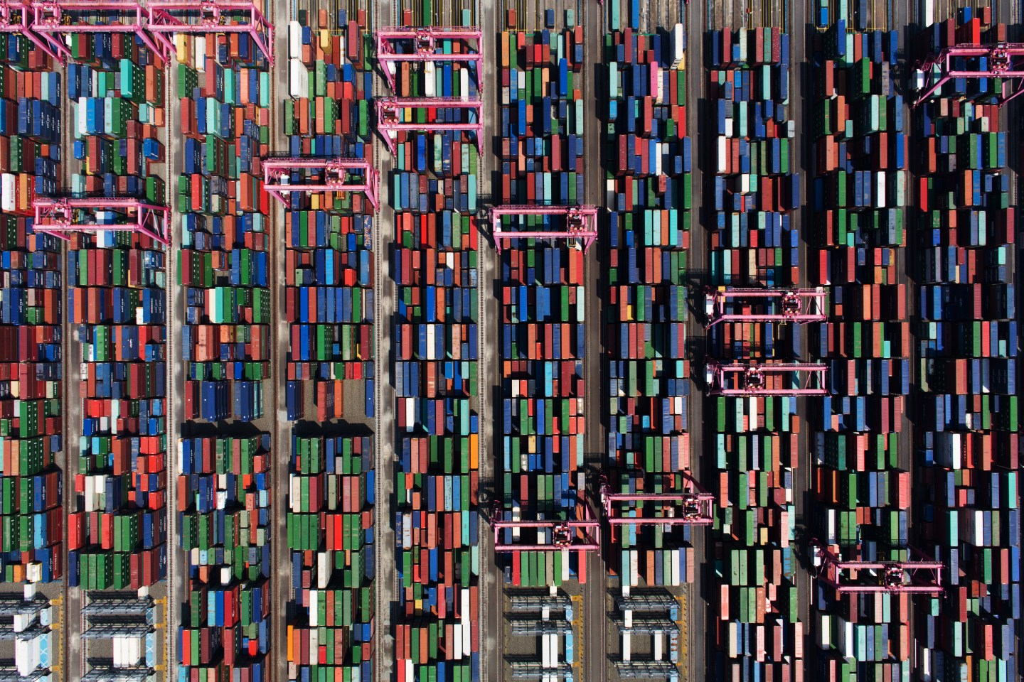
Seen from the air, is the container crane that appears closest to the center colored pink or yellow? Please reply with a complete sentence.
The color of the container crane that appears closest to the center is pink.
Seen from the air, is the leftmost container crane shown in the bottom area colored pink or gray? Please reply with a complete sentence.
The leftmost container crane shown in the bottom area is pink.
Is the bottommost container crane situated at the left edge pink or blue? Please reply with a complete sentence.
The bottommost container crane situated at the left edge is pink.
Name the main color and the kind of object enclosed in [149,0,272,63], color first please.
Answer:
pink container crane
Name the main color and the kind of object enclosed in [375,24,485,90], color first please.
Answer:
pink container crane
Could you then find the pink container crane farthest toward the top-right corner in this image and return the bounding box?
[910,42,1024,106]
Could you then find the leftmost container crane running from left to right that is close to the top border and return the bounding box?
[35,0,168,63]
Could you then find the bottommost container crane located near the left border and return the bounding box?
[35,195,169,246]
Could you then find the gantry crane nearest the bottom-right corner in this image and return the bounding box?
[806,537,942,598]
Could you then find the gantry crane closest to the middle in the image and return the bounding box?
[489,202,600,253]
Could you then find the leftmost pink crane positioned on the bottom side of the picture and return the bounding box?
[490,499,601,558]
